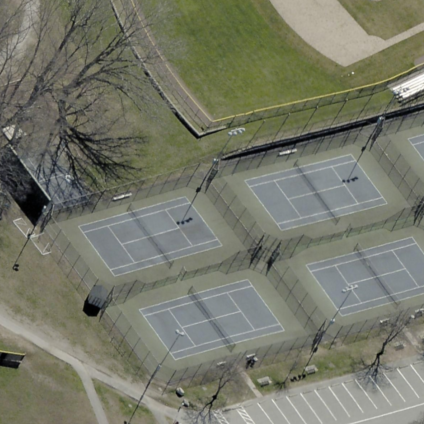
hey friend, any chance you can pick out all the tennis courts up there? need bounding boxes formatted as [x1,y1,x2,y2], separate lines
[265,212,424,337]
[206,131,424,254]
[370,117,424,205]
[40,174,264,296]
[107,255,323,384]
